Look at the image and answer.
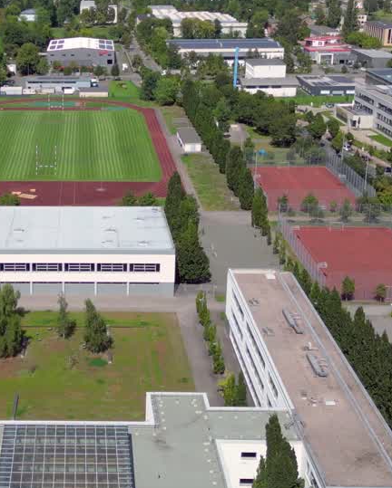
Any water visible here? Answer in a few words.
No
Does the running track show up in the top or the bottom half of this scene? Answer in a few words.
top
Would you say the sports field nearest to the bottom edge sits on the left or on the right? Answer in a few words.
left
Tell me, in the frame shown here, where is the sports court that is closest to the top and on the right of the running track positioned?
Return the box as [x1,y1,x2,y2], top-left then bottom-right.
[247,166,358,211]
